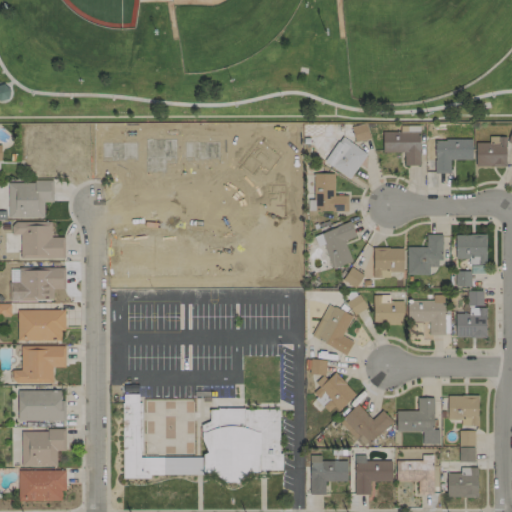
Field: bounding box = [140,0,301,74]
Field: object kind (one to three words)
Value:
baseball field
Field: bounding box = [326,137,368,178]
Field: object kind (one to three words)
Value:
house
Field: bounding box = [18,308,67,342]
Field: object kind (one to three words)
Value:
house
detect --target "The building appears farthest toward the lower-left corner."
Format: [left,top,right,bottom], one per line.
[19,469,67,502]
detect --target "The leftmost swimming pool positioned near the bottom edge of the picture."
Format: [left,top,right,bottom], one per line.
[0,472,18,490]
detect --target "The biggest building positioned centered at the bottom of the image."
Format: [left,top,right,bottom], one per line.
[124,384,284,486]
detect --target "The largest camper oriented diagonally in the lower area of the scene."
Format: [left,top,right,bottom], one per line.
[350,390,369,409]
